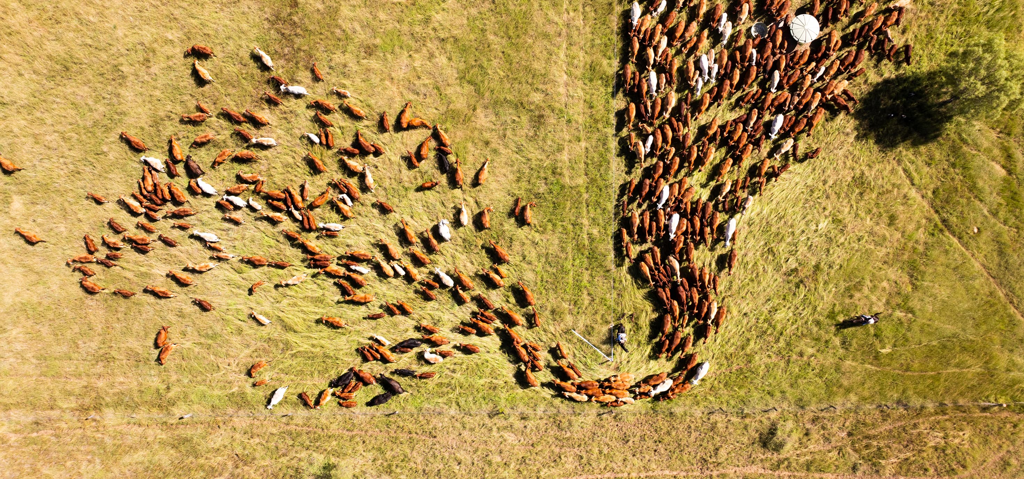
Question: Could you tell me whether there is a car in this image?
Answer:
No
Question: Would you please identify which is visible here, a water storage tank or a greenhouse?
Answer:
water storage tank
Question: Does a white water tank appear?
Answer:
Yes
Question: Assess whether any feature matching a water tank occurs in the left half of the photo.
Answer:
No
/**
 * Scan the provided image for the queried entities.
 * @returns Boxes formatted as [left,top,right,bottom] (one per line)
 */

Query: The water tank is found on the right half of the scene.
[784,13,820,47]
